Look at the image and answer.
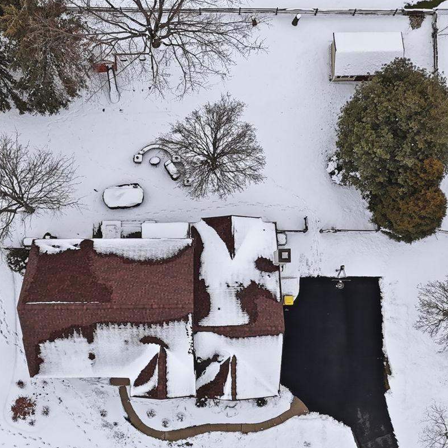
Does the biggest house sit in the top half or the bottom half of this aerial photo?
bottom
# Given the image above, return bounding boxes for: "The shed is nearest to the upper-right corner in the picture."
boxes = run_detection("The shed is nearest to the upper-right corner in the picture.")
[327,33,405,81]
